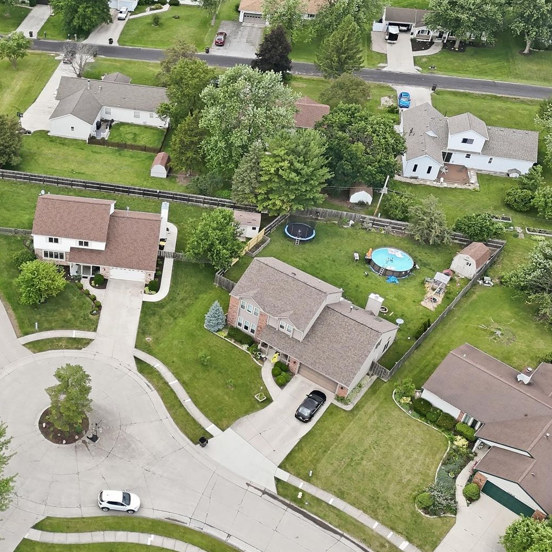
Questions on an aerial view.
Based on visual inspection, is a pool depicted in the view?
Yes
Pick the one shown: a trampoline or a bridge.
trampoline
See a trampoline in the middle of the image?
Yes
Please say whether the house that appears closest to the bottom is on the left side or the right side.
right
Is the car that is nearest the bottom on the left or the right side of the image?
left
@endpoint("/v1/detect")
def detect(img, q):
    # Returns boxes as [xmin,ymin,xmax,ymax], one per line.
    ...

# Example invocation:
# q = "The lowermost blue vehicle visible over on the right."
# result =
[397,91,412,106]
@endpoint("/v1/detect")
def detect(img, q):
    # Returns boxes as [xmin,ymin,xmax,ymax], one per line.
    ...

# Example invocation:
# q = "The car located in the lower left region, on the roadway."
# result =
[97,490,140,513]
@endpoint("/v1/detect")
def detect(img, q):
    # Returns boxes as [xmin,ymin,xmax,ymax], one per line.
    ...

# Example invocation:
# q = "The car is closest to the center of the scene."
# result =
[296,389,329,421]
